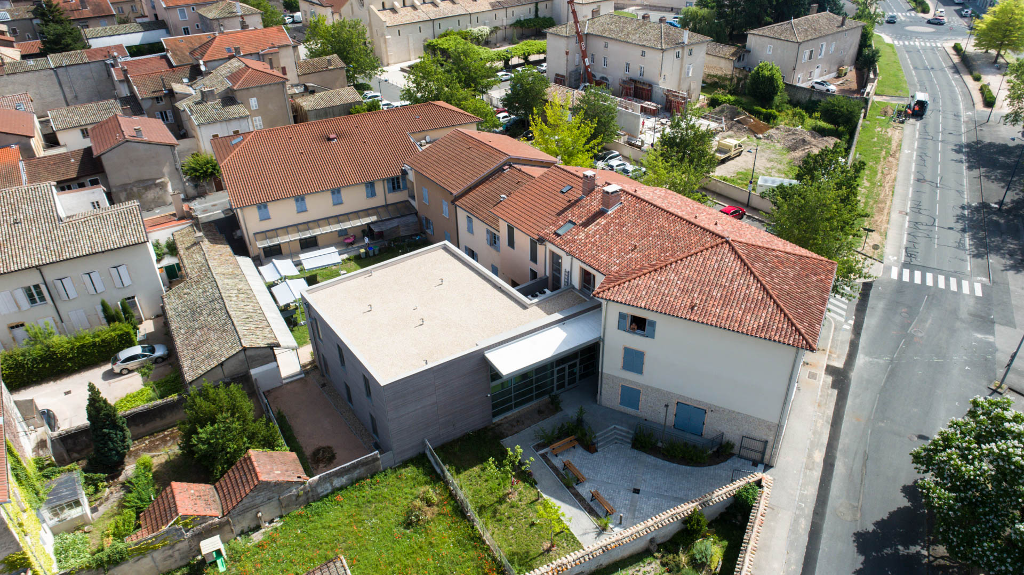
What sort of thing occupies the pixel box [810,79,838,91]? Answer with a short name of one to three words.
vehicle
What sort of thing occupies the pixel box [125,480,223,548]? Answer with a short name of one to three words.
shed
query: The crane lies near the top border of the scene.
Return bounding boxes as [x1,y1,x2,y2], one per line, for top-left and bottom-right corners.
[564,0,628,97]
